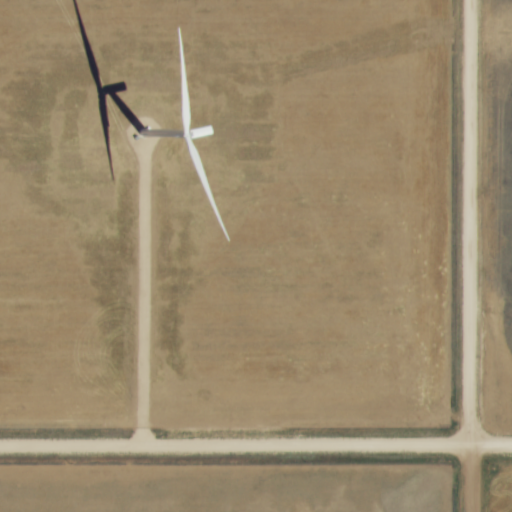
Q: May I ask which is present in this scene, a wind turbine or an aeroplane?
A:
wind turbine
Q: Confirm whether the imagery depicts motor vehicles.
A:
No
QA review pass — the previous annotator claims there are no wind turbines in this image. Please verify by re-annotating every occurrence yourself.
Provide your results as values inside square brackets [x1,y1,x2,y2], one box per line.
[136,26,228,240]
